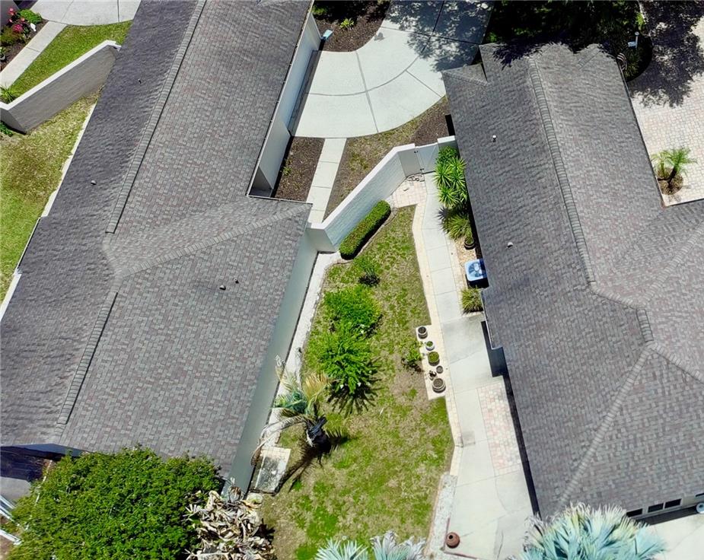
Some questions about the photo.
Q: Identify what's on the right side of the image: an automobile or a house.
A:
house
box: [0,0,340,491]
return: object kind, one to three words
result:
house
